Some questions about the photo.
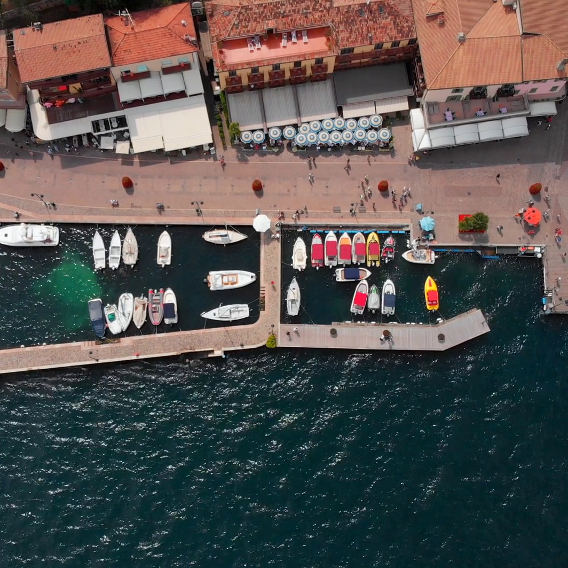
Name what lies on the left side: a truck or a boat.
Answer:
boat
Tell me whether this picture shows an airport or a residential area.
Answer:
residential area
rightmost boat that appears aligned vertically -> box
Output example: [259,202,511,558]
[424,276,441,314]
